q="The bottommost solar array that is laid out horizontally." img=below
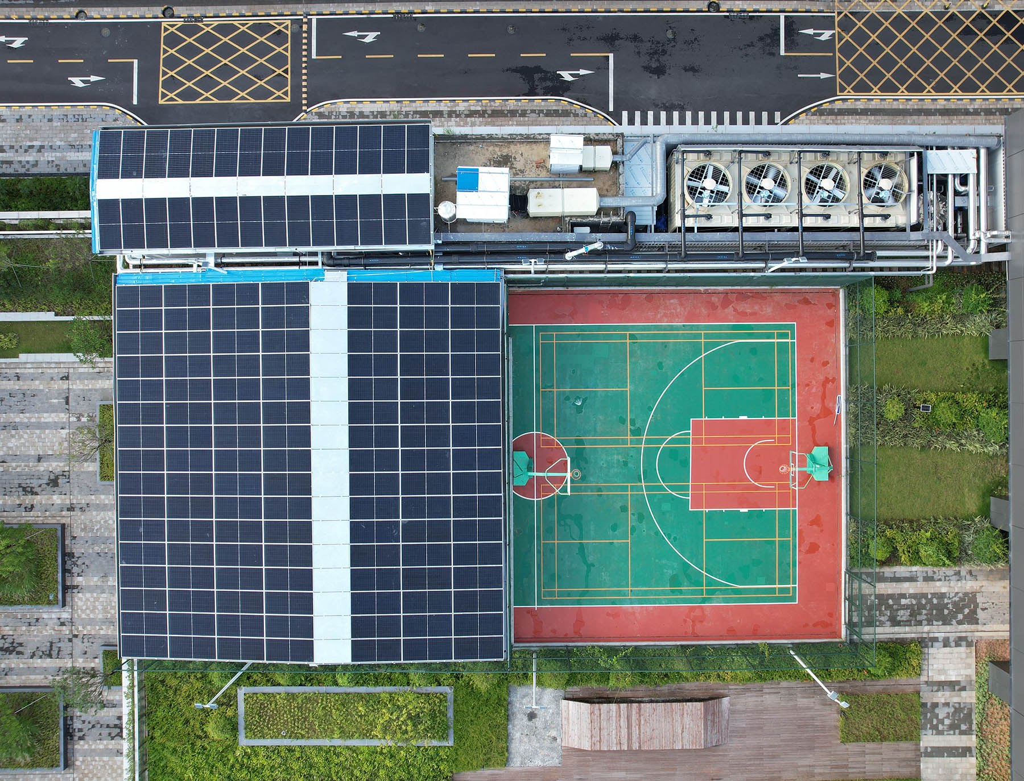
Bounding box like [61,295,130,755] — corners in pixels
[97,193,432,250]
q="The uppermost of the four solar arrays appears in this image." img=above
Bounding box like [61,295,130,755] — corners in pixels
[97,125,431,179]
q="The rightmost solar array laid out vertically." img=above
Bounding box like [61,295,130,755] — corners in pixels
[348,282,504,663]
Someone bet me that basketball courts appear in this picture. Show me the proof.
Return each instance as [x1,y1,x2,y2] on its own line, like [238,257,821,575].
[502,288,849,649]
